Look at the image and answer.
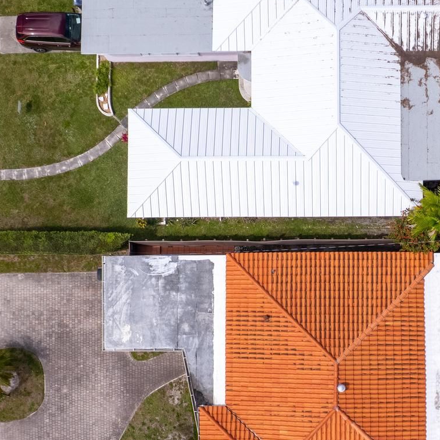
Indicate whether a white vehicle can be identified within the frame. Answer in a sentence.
No, there is no white vehicle in the image.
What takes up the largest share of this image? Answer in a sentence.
What you mostly see from above here is buildings.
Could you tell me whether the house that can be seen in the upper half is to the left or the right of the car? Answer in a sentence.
It is on the right side of the car that the house that can be seen in the upper half is positioned.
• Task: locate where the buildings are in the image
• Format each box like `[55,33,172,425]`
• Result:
[81,0,440,219]
[102,250,440,440]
